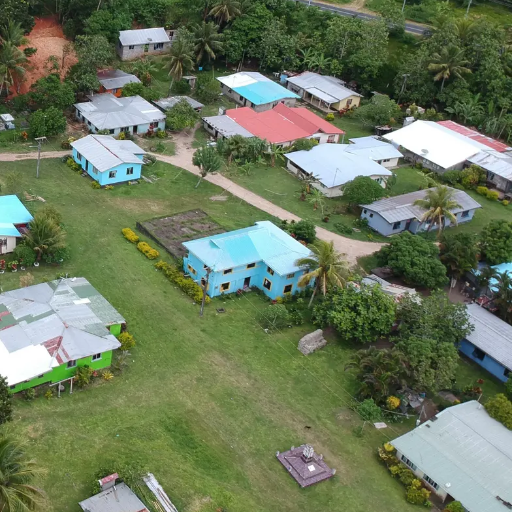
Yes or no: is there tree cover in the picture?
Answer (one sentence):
Yes, there is tree cover in the image.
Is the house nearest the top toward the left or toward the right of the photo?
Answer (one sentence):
The house nearest the top sits on the left side.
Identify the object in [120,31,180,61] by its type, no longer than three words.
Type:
house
